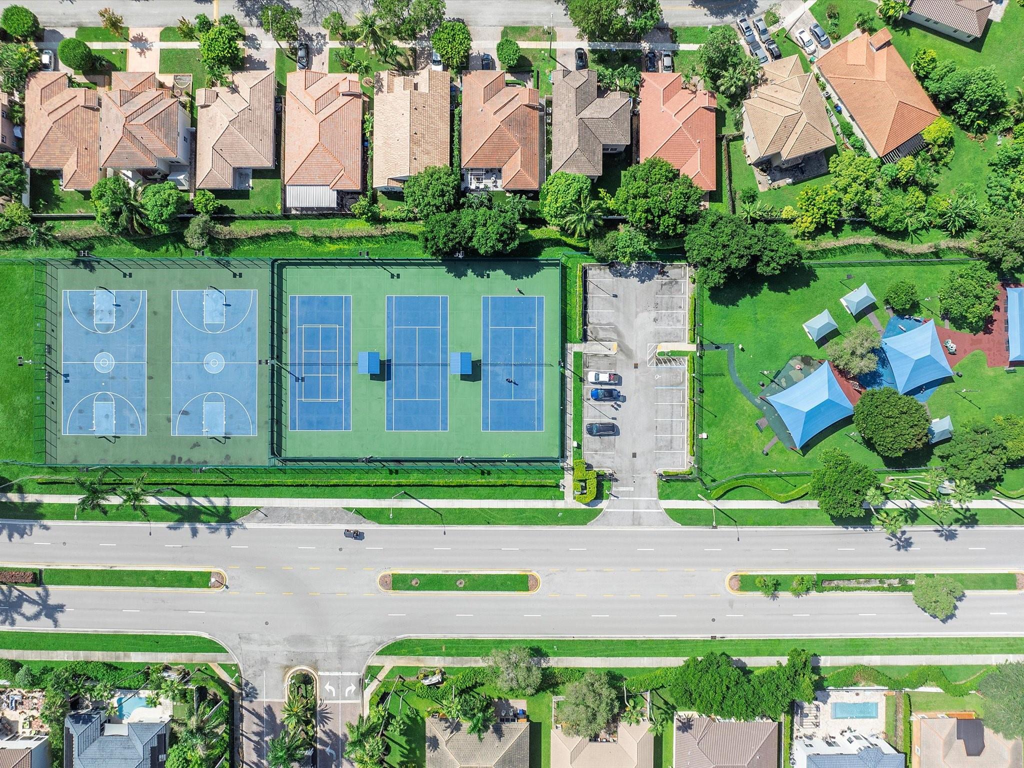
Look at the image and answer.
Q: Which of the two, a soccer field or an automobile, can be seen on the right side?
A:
automobile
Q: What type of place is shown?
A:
residential area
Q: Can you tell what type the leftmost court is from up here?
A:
basketball court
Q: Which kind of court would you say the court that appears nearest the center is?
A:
tennis court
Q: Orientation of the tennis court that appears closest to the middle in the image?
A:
up and down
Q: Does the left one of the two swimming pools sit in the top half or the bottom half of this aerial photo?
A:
bottom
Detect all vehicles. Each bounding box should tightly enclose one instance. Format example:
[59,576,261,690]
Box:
[808,23,830,50]
[592,389,623,401]
[752,15,771,43]
[481,52,492,70]
[574,46,587,70]
[587,371,620,385]
[431,45,444,68]
[40,47,56,72]
[794,27,816,55]
[297,42,310,68]
[763,37,784,62]
[587,423,615,436]
[343,529,362,540]
[747,36,770,66]
[661,48,674,73]
[645,48,658,73]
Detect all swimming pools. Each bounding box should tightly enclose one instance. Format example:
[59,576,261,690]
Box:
[116,696,157,721]
[830,701,879,720]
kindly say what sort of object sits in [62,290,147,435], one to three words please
basketball court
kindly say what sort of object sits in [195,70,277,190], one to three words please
house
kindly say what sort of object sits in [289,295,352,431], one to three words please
tennis court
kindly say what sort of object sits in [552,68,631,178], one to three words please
house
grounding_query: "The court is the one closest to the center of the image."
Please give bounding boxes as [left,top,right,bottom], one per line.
[481,296,544,431]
